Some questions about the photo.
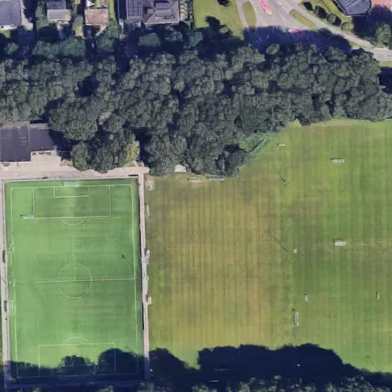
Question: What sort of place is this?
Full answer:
It's a sports ground.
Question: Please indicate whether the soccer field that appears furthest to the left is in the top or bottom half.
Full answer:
Seen from above, the soccer field that appears furthest to the left lies in the bottom half of the view.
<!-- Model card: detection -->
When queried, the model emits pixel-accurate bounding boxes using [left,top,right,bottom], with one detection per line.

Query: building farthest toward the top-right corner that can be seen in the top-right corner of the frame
[333,0,372,18]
